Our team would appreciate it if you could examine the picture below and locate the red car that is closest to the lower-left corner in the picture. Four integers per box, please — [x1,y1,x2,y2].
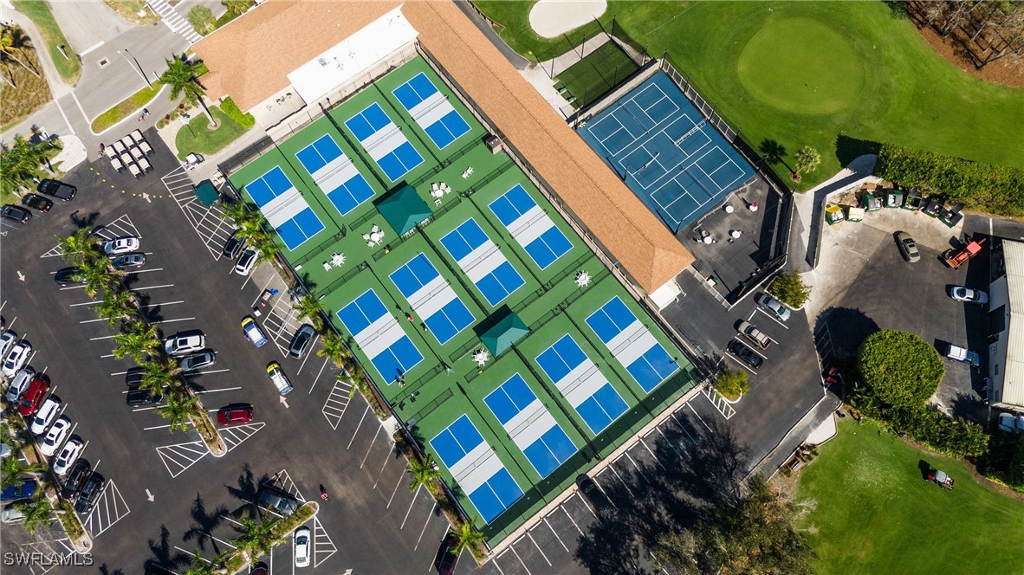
[18,378,51,415]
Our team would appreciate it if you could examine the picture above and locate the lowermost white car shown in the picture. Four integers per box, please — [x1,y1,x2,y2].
[294,527,312,567]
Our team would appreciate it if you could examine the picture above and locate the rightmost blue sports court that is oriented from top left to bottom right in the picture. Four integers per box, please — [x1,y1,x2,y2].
[585,295,680,394]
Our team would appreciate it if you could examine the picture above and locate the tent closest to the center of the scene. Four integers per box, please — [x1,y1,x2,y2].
[479,311,530,360]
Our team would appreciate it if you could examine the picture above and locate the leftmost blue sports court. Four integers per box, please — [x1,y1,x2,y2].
[245,165,325,251]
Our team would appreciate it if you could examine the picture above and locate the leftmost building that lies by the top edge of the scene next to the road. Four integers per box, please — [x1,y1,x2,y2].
[190,0,419,117]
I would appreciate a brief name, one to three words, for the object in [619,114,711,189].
sports court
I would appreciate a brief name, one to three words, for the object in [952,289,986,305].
car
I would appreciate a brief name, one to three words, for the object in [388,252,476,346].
sports court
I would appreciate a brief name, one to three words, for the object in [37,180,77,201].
truck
